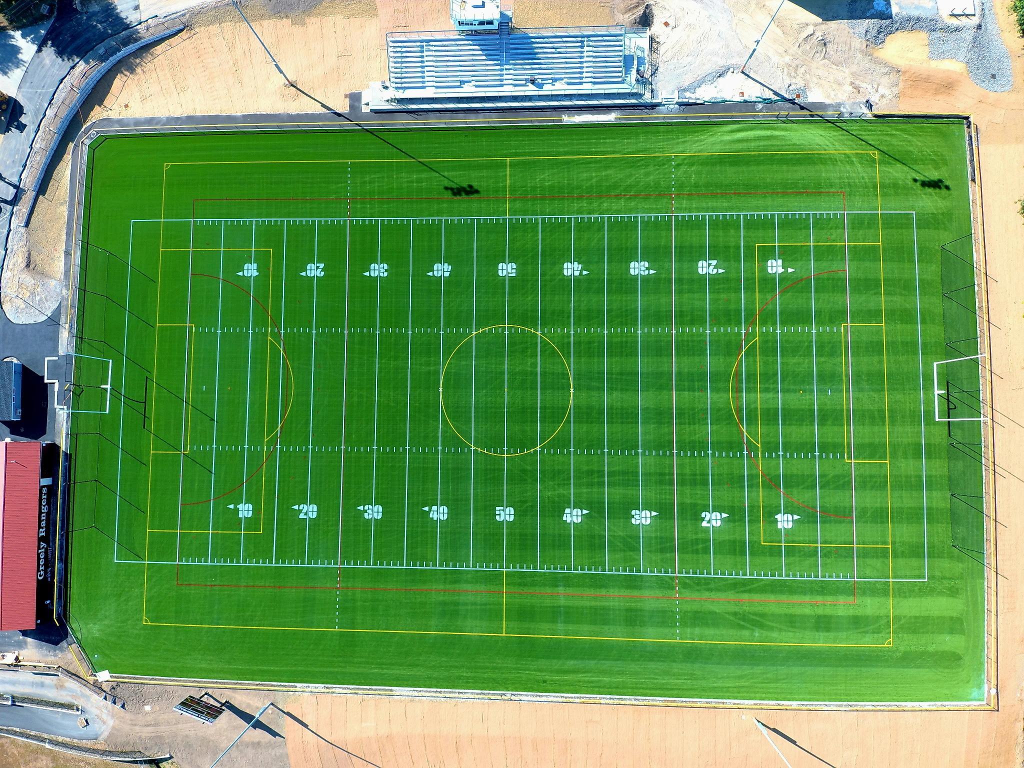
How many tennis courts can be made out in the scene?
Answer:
zero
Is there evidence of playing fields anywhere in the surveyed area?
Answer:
Yes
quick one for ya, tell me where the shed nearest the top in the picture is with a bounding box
[0,360,29,422]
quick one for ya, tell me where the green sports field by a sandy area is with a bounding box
[62,119,986,703]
